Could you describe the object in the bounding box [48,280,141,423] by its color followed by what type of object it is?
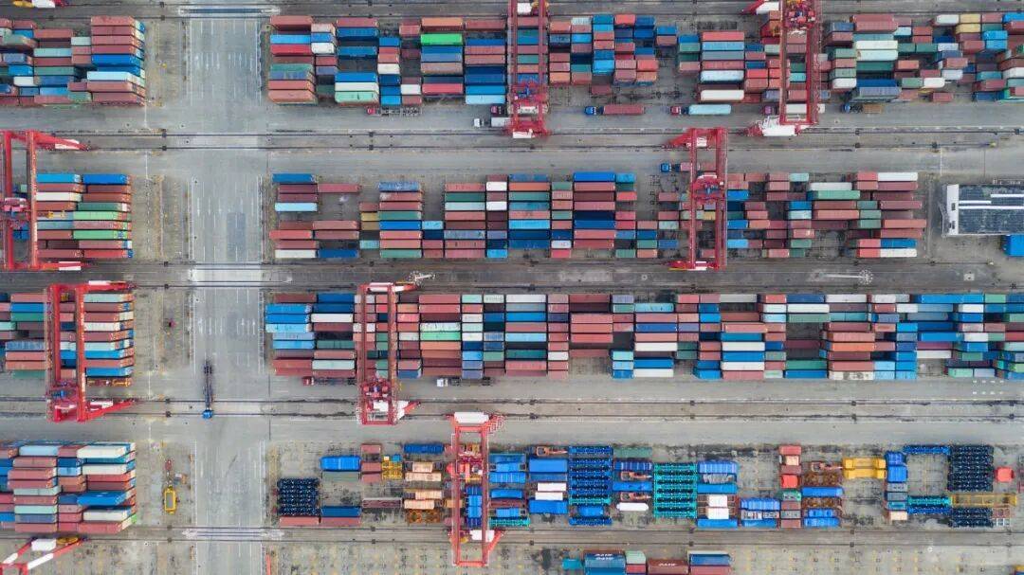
red container crane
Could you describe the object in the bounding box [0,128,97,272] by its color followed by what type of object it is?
red container crane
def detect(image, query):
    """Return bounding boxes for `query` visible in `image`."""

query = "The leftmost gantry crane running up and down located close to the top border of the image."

[494,0,560,139]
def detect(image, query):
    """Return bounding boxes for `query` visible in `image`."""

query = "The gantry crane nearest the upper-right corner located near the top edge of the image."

[740,0,818,139]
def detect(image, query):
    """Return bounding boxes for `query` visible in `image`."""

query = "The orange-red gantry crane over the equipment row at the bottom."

[442,413,508,569]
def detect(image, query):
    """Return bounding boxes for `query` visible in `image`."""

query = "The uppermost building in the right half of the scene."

[932,184,1024,236]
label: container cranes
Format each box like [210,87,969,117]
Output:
[0,537,91,575]
[494,0,560,139]
[656,128,726,272]
[740,0,818,139]
[0,128,97,272]
[48,280,141,423]
[356,280,422,424]
[442,413,508,569]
